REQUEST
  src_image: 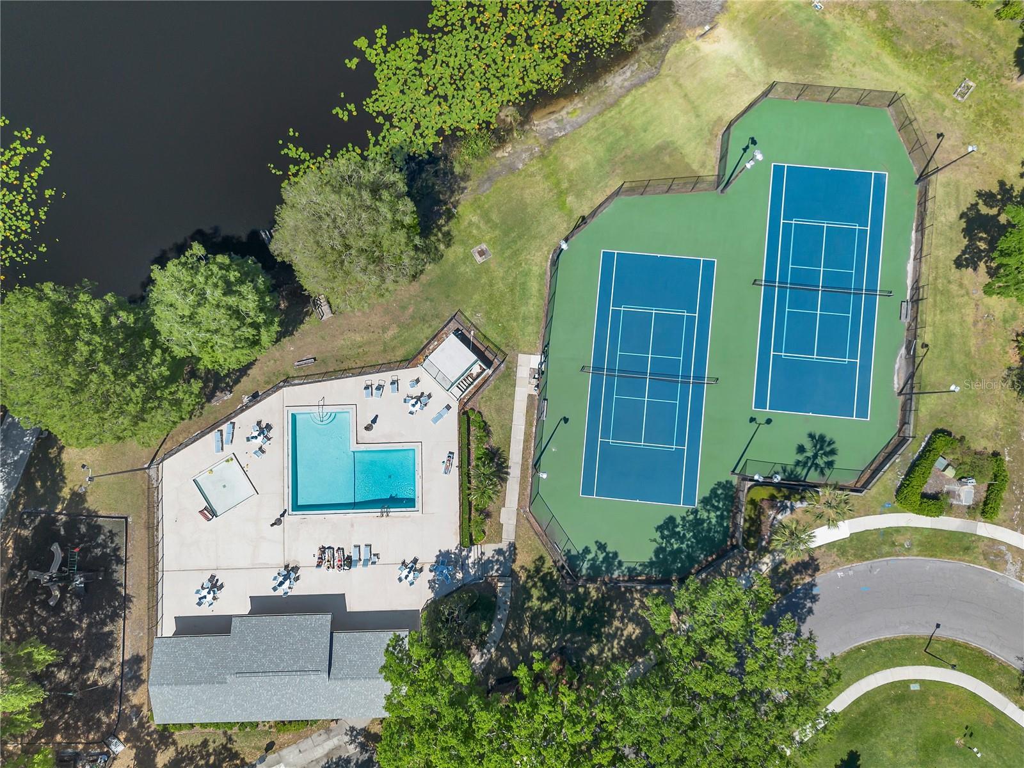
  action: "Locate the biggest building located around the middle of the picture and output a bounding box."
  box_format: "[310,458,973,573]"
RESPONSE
[423,333,490,401]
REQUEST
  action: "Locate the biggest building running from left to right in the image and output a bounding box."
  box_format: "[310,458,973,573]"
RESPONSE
[148,612,413,722]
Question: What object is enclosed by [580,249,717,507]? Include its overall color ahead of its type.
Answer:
blue tennis court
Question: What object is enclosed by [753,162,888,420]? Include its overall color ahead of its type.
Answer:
blue tennis court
